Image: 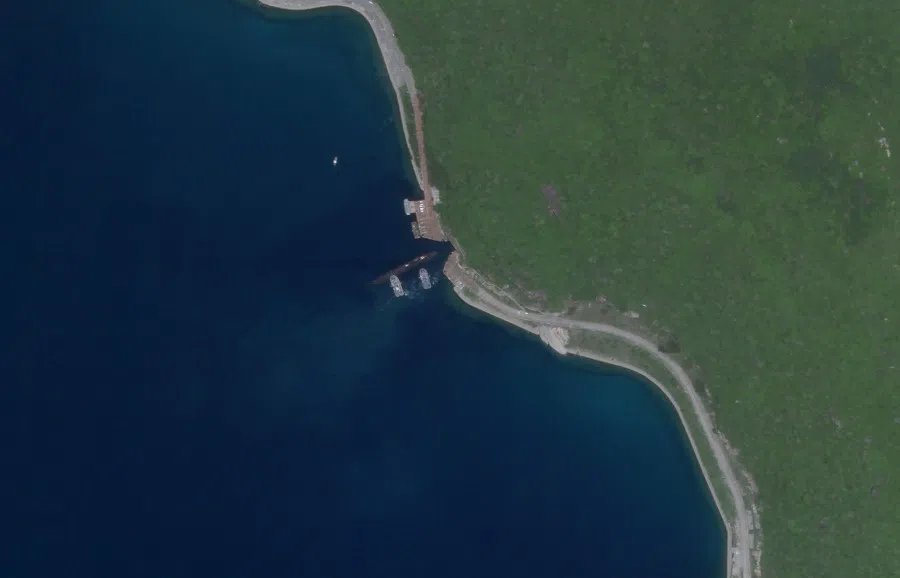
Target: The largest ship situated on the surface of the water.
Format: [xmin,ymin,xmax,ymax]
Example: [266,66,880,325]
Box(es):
[374,252,436,282]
